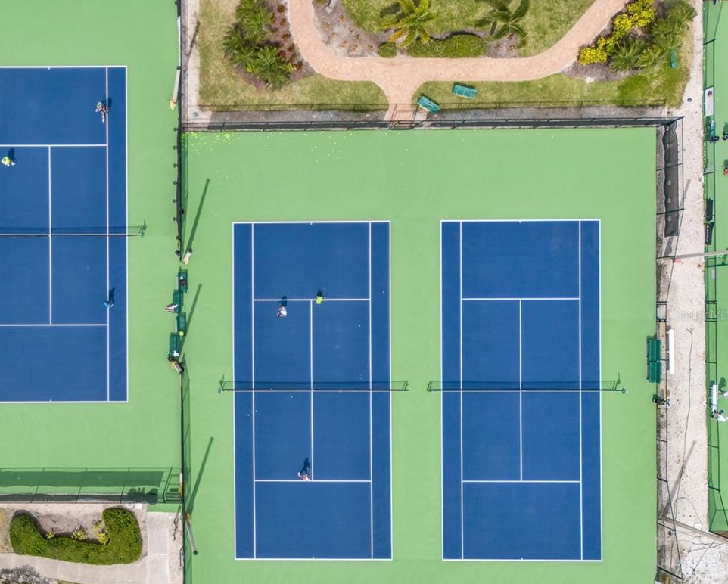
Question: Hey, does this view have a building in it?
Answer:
No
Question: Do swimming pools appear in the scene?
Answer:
No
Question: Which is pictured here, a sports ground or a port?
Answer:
sports ground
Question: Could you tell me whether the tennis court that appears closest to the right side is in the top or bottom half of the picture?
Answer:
bottom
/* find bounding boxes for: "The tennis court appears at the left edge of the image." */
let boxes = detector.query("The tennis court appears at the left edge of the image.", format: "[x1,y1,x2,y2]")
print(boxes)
[0,65,128,403]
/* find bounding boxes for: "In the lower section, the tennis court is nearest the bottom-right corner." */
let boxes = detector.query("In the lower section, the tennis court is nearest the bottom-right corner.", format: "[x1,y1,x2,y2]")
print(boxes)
[441,220,603,560]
